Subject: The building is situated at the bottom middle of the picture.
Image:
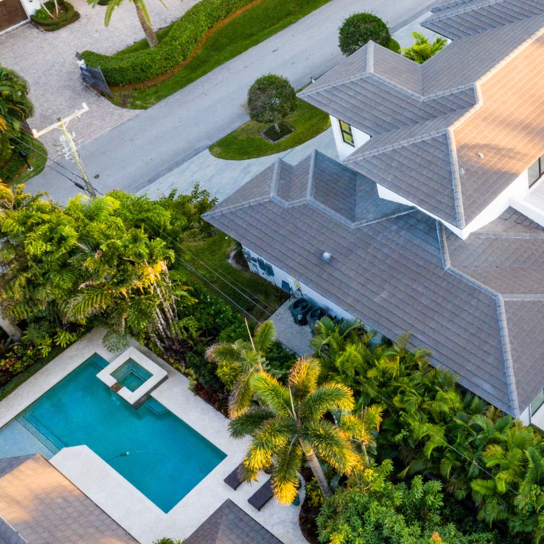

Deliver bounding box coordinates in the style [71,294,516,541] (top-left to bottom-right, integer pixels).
[181,496,284,544]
